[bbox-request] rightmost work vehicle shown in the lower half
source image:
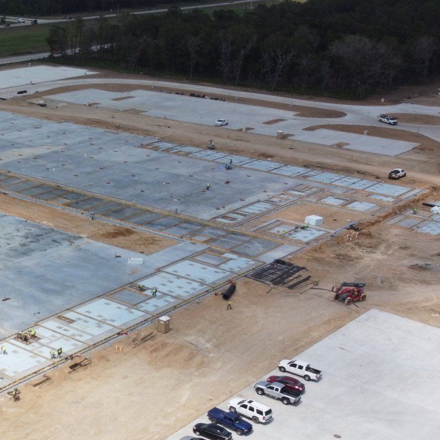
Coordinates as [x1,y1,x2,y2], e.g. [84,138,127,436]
[332,281,368,305]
